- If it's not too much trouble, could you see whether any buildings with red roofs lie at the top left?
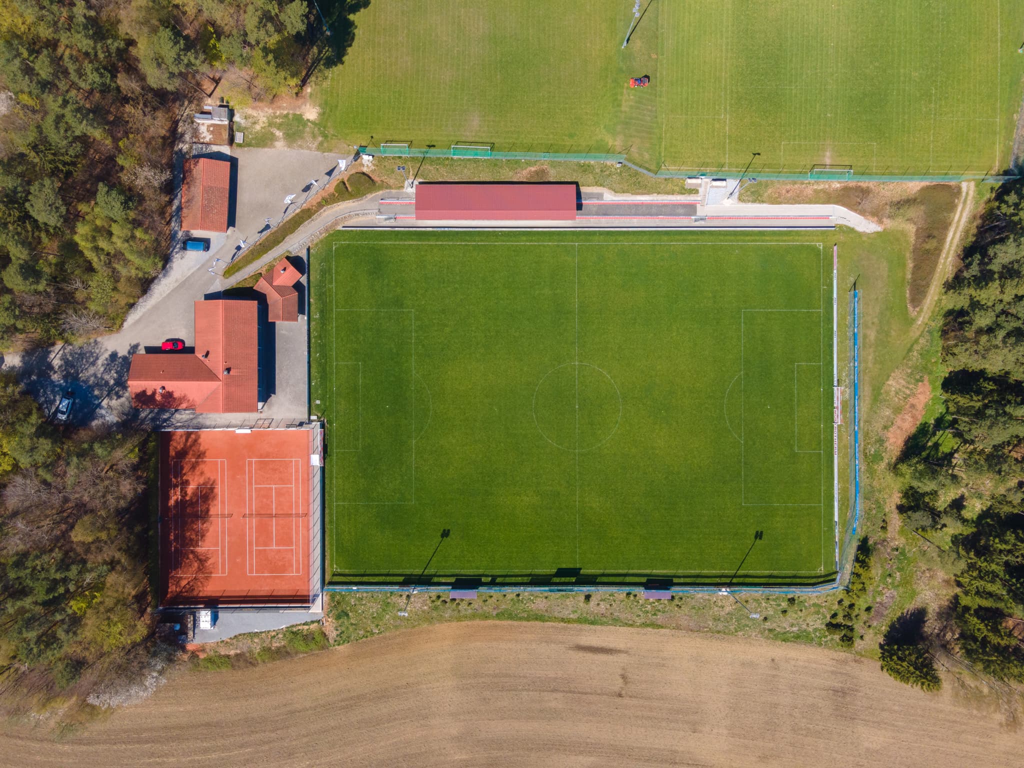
Yes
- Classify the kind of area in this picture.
sports ground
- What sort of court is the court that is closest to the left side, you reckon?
tennis court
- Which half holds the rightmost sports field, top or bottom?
top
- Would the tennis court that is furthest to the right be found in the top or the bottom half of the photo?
bottom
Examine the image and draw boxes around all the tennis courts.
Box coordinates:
[237,431,313,607]
[159,431,237,607]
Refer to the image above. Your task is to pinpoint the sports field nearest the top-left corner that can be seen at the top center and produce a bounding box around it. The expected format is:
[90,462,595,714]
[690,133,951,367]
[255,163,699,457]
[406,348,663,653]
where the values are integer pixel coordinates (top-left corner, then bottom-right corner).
[326,0,623,154]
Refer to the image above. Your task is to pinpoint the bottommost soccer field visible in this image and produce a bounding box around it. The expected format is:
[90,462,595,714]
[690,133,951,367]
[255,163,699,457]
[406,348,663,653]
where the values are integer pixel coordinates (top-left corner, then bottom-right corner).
[310,230,834,585]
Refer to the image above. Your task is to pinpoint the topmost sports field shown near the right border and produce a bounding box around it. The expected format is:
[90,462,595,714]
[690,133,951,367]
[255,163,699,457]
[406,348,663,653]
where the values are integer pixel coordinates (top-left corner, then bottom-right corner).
[663,0,1024,175]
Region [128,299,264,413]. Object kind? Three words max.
building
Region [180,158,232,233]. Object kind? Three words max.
building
